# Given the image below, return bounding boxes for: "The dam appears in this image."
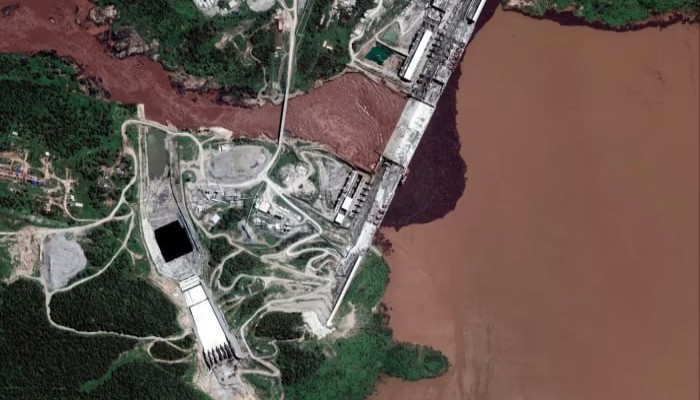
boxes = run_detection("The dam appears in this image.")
[327,0,486,323]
